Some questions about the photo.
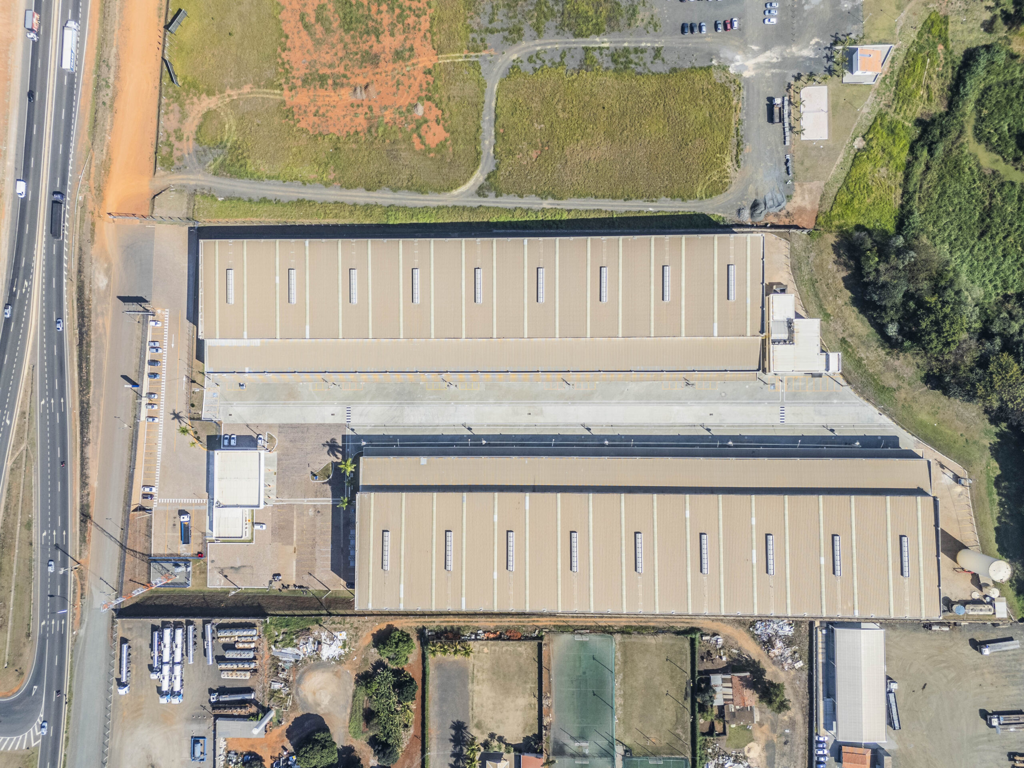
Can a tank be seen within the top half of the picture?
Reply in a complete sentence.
No, I see no tank within the top half of the picture.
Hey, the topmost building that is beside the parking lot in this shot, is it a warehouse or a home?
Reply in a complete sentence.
It looks like the topmost building that is beside the parking lot is a warehouse.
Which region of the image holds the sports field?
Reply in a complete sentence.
The sports field is in the bottom part of the image.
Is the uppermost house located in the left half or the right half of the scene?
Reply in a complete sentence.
The uppermost house is on the right side of the image.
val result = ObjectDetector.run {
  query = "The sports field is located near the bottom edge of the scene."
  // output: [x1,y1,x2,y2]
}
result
[551,635,689,768]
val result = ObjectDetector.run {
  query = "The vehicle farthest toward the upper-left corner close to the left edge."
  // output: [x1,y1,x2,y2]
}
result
[25,11,40,43]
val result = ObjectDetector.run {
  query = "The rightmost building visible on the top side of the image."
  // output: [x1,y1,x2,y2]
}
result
[852,47,882,78]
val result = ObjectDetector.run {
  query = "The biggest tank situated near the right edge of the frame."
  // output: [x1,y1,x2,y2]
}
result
[956,548,1013,584]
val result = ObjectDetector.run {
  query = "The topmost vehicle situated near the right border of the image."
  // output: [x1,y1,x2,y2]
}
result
[976,638,1020,654]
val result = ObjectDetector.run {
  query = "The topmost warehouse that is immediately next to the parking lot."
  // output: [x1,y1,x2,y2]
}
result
[200,234,766,383]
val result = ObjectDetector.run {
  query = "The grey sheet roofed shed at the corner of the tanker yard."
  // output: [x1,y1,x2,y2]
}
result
[216,717,267,738]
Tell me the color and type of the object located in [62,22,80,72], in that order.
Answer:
white vehicle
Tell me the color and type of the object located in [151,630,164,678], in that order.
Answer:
white vehicle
